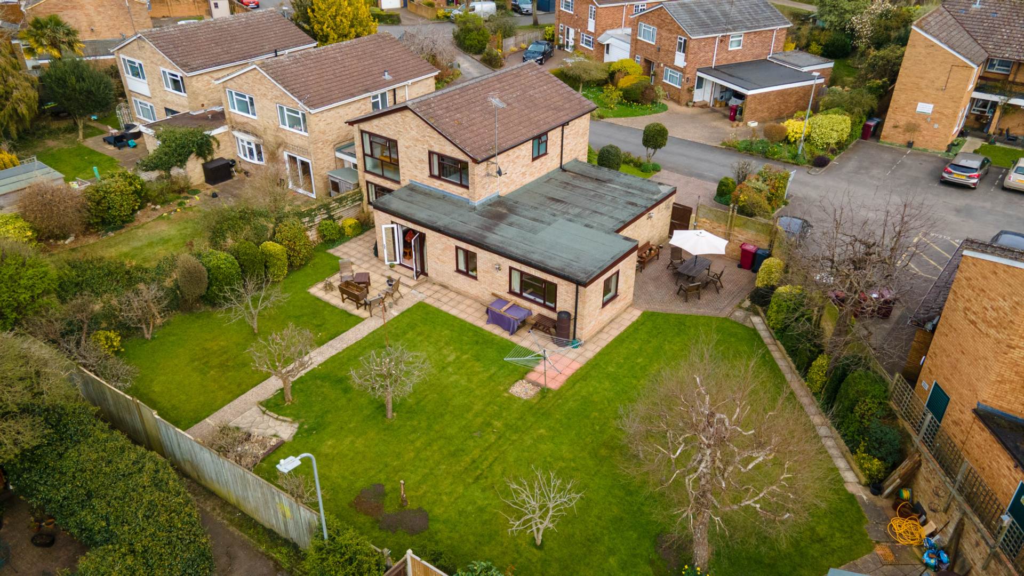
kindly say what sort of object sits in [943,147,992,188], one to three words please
car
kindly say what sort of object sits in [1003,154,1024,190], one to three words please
car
